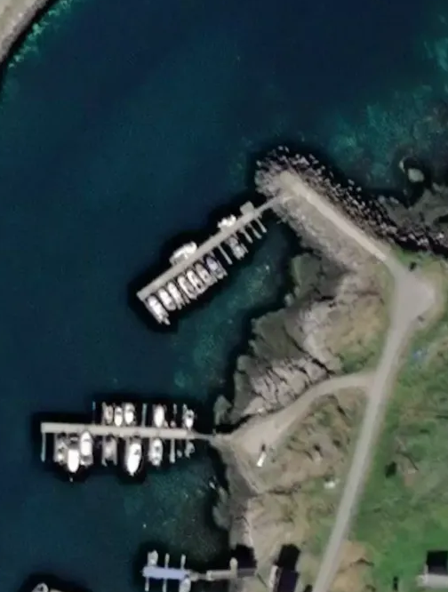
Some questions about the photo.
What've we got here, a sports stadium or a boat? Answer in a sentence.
There is a boat in the scene.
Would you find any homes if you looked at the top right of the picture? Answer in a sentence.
No, there is no home at the top right of the picture.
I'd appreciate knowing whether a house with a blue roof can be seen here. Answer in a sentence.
No, there isn't any house with a blue roof down there.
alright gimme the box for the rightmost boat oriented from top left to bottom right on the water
[228,239,246,261]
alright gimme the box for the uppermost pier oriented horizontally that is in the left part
[41,402,221,466]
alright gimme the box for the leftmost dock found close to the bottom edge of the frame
[143,553,206,592]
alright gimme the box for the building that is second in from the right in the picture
[272,568,299,592]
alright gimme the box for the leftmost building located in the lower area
[238,561,256,578]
